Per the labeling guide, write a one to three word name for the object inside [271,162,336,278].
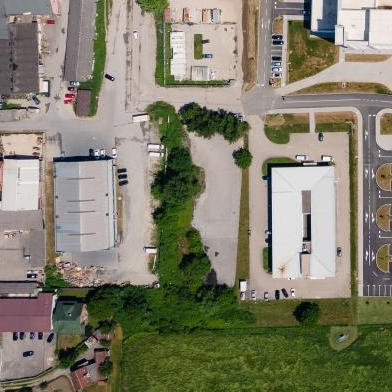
building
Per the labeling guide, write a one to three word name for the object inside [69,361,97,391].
house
